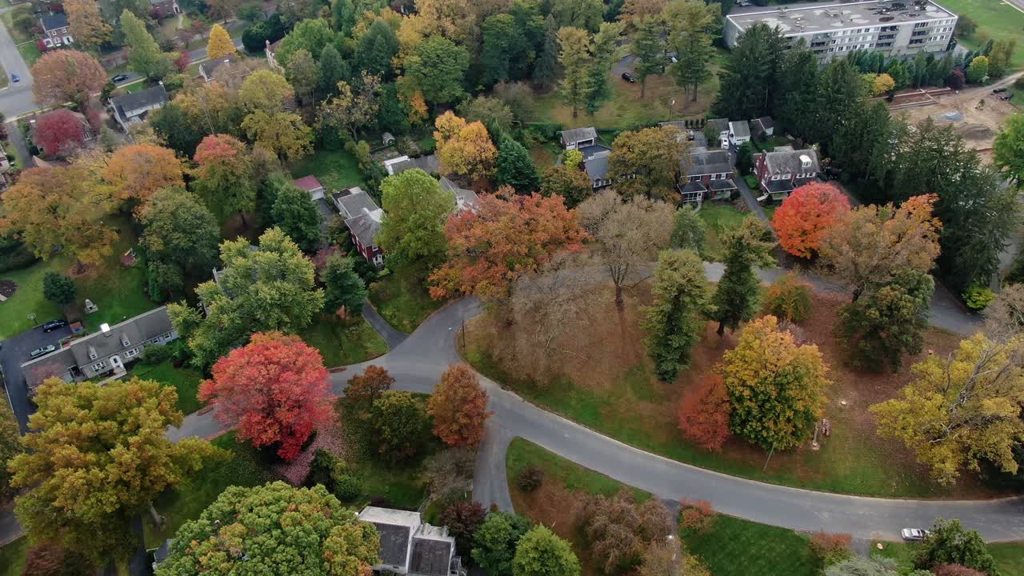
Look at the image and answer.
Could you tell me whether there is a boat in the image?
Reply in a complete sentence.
No, this view has no boat in it.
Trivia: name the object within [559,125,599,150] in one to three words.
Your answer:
building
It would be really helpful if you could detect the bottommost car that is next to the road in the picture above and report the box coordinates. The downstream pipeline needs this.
[900,527,934,543]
